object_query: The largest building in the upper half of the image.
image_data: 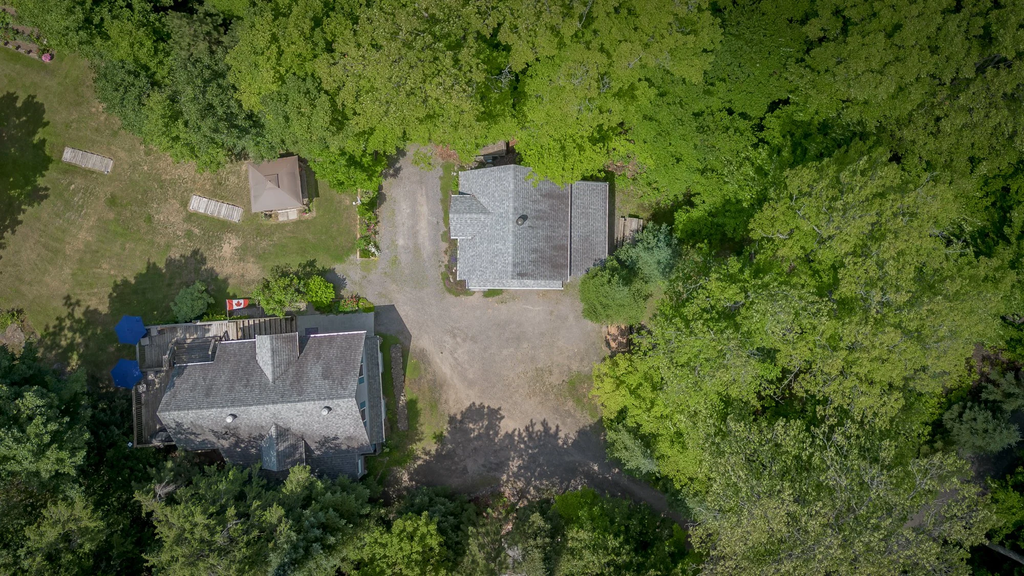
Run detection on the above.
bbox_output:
[450,164,609,290]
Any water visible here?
No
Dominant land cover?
trees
